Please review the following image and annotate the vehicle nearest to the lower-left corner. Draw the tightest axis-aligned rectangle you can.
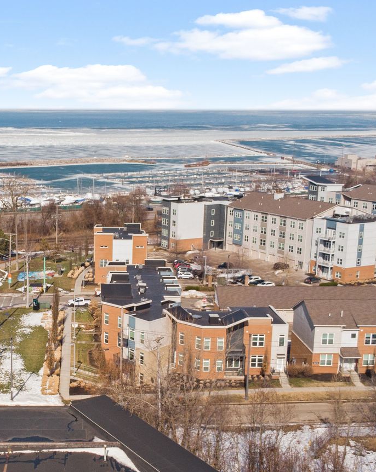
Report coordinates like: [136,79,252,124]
[65,296,93,308]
